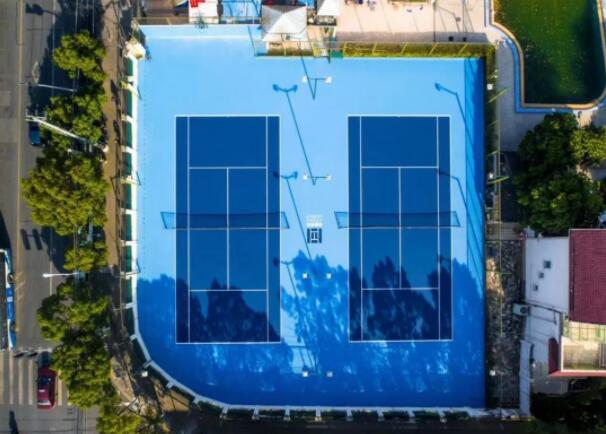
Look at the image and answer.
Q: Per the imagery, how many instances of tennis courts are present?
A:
2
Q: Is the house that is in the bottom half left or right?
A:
right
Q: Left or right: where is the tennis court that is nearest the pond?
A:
right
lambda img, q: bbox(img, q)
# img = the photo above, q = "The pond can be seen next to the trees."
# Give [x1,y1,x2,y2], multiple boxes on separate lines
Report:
[485,0,606,112]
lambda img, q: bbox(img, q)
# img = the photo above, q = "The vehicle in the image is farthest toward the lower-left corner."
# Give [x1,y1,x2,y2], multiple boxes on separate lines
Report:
[35,367,60,411]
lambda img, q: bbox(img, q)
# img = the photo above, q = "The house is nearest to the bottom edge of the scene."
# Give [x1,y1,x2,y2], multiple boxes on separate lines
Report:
[522,229,606,374]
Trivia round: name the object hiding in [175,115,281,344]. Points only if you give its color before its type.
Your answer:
blue tennis court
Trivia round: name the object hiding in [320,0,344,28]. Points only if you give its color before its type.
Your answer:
white tent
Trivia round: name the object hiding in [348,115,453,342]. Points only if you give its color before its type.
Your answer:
blue tennis court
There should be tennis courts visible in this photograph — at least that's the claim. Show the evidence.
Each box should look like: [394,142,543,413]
[348,115,453,342]
[175,115,281,344]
